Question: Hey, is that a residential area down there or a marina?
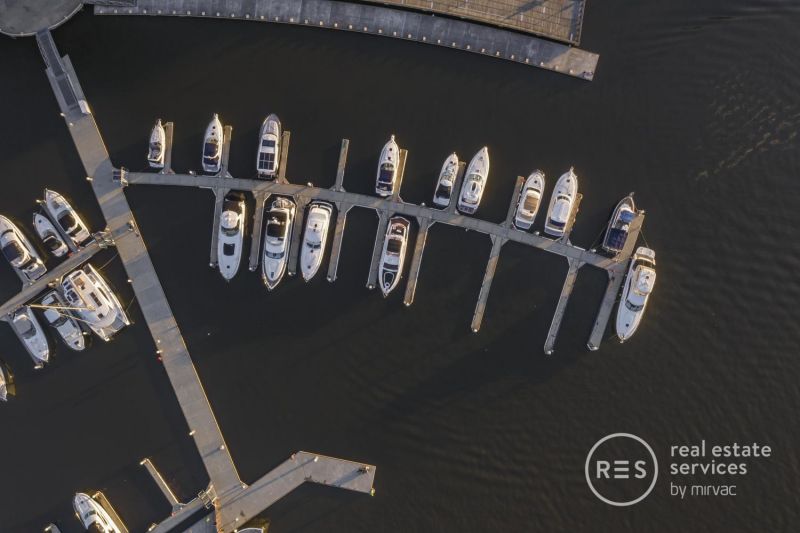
marina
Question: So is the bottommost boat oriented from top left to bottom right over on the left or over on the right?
left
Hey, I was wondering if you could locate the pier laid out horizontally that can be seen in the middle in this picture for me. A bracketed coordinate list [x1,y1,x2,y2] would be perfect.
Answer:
[127,123,645,353]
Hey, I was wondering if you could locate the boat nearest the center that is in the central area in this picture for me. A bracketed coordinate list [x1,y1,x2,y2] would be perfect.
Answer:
[380,217,409,295]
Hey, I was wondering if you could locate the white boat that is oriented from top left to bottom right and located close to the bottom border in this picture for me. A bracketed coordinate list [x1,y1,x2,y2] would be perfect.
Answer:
[73,495,114,533]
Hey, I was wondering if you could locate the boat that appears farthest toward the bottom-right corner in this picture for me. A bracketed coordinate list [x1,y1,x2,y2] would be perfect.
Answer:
[618,247,661,344]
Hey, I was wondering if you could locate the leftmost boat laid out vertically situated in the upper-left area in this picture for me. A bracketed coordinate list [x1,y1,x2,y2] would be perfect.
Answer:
[146,118,168,168]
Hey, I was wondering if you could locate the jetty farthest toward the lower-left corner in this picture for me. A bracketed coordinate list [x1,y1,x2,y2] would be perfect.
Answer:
[94,459,209,533]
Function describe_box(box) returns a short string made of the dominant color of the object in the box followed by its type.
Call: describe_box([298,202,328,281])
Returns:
white boat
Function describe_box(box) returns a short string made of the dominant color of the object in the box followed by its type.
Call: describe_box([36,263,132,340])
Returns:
white boat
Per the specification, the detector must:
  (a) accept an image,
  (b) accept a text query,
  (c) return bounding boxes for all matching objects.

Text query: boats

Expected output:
[239,527,259,533]
[44,191,89,245]
[0,216,44,279]
[216,198,244,281]
[146,118,168,168]
[14,308,49,360]
[618,247,661,344]
[545,164,577,237]
[73,495,114,533]
[380,217,409,295]
[434,152,459,209]
[603,191,634,254]
[255,113,280,178]
[375,134,400,196]
[34,216,67,256]
[515,170,545,229]
[298,202,328,281]
[42,292,80,348]
[36,263,132,340]
[260,198,292,289]
[202,111,225,172]
[456,147,489,214]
